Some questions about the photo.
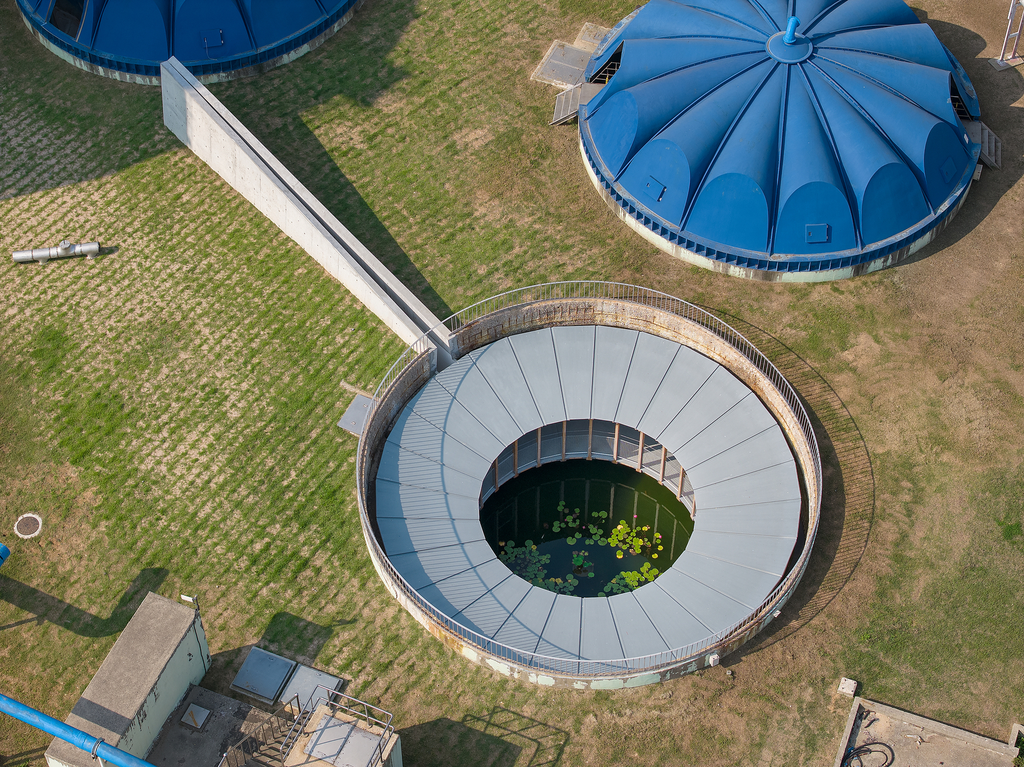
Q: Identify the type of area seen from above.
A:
industrial area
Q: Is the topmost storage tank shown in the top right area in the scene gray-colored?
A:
No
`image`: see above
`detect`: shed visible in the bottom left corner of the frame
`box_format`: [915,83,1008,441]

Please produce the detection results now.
[44,592,207,767]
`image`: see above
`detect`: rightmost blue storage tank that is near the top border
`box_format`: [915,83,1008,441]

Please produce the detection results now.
[580,0,981,282]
